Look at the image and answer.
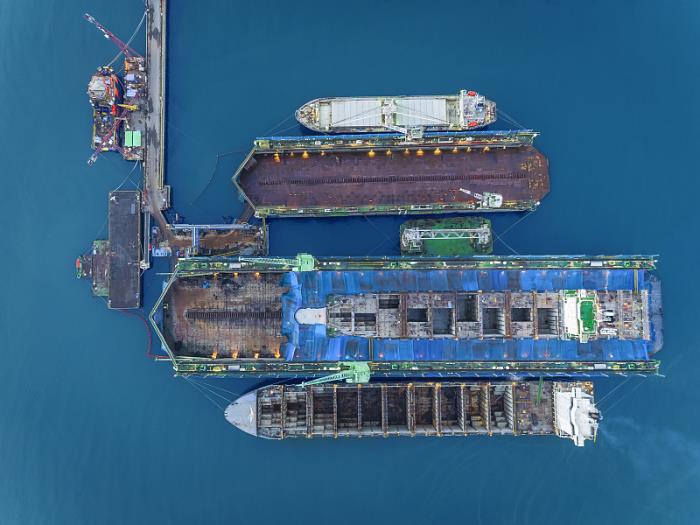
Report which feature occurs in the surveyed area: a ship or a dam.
ship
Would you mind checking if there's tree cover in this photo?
No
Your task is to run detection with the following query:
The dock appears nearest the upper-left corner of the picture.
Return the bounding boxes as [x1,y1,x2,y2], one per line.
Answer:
[142,0,171,212]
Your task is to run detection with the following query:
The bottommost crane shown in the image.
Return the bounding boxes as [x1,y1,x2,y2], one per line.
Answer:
[301,360,371,388]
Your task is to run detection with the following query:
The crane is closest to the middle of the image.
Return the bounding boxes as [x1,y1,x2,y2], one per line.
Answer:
[239,254,314,271]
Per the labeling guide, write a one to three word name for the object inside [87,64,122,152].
ship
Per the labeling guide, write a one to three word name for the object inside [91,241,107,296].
ship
